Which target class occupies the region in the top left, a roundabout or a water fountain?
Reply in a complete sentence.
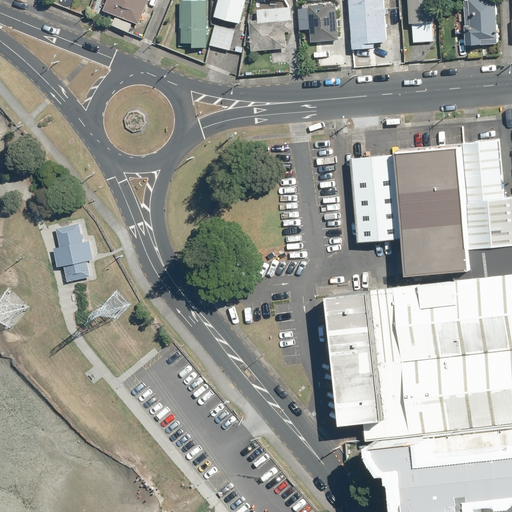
The feature located in the top left is a roundabout.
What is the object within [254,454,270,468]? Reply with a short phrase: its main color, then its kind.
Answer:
white vehicle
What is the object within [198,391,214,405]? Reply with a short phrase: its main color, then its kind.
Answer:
white car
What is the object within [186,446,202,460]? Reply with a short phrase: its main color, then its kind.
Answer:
white car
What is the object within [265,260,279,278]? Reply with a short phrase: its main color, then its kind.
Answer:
white vehicle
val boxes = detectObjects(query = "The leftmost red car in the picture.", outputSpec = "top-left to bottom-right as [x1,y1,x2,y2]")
[160,413,176,427]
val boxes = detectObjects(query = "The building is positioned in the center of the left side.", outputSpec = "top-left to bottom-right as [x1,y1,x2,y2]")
[54,224,96,282]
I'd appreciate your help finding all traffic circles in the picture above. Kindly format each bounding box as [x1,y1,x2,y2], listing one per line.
[104,84,175,156]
